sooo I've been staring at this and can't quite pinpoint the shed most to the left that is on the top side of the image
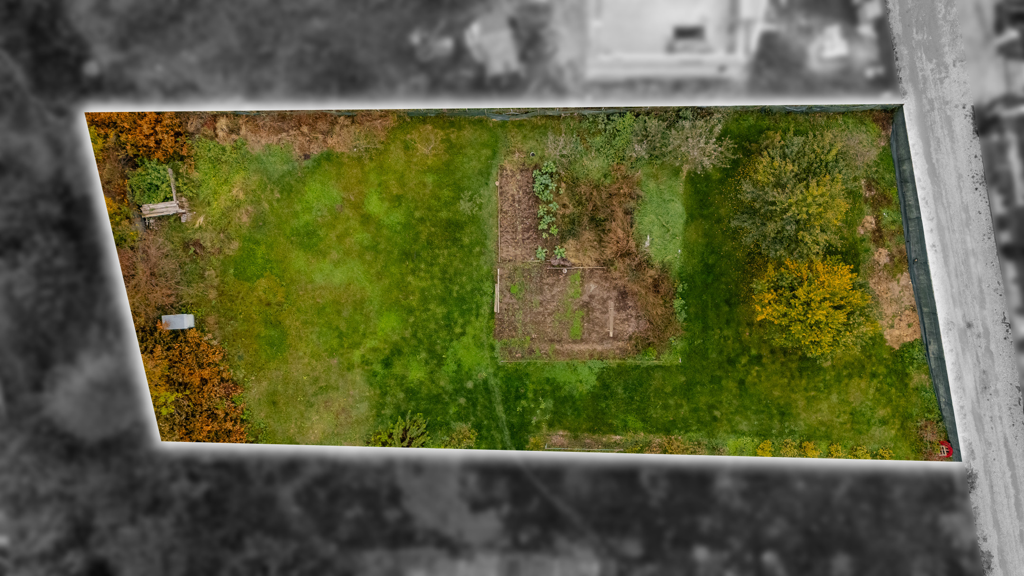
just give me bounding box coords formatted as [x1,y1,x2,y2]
[464,12,522,83]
